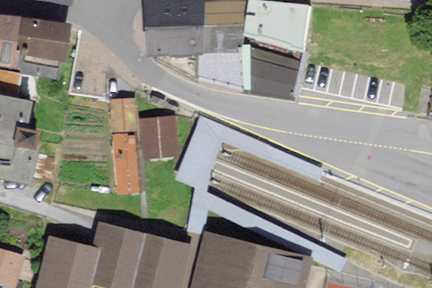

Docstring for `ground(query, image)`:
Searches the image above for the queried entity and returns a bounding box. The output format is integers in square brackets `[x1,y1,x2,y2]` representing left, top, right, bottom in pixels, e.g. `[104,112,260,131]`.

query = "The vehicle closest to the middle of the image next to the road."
[164,98,180,110]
